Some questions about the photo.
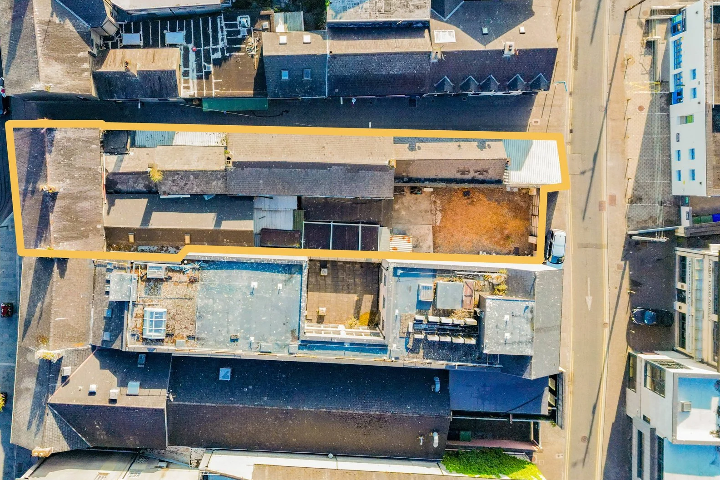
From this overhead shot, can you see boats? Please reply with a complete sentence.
No, the scene contains no boat.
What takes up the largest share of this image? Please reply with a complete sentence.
The largest share of the image is taken up by buildings.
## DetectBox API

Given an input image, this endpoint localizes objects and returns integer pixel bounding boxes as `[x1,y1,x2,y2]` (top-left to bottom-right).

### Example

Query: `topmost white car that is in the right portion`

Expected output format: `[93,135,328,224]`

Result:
[545,228,568,268]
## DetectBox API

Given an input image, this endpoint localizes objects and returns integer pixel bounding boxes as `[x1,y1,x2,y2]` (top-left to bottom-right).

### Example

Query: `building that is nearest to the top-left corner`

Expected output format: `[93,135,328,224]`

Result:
[0,0,122,106]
